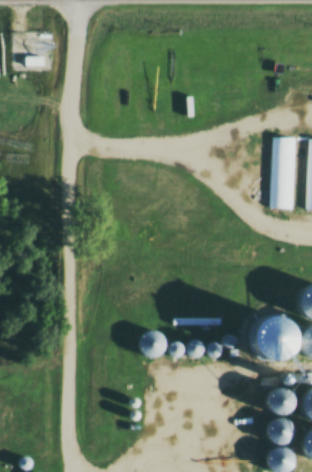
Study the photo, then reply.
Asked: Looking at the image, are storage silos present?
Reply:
Yes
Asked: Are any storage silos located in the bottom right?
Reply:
Yes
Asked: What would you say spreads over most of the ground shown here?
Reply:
grass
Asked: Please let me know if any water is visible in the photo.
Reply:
No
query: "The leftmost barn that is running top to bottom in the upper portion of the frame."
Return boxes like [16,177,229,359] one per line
[270,137,296,211]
